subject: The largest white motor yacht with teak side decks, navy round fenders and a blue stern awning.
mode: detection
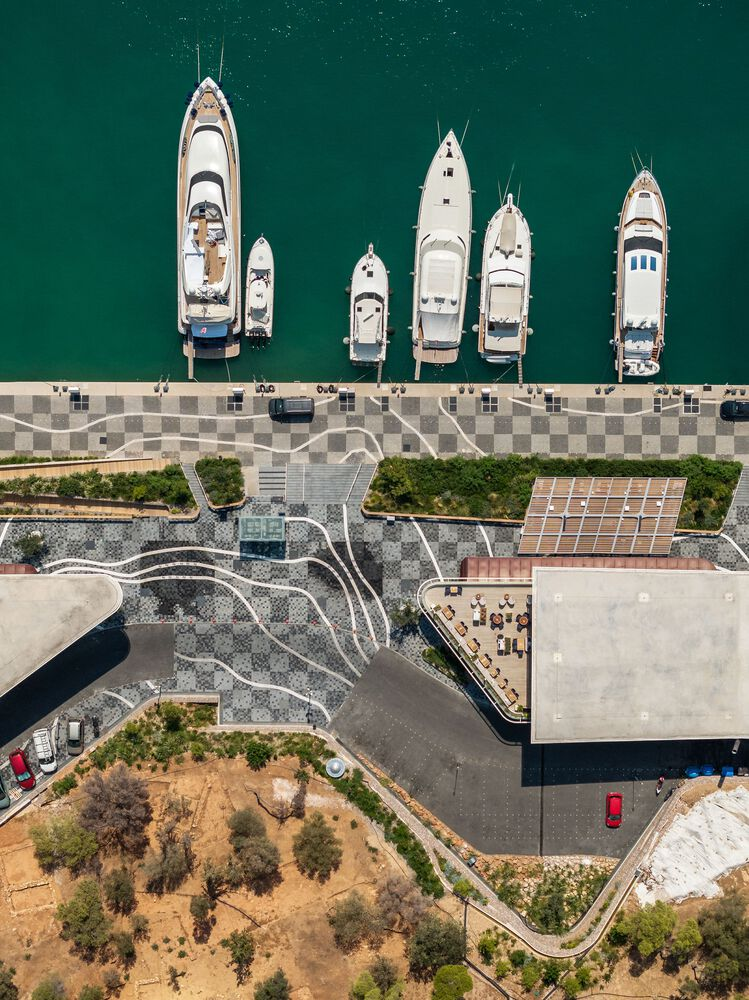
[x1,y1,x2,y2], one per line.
[178,38,241,383]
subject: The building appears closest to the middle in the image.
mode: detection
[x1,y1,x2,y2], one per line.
[240,516,286,542]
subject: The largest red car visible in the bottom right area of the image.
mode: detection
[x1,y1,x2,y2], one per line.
[603,792,625,829]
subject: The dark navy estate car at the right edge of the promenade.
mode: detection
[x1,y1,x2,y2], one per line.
[722,399,749,421]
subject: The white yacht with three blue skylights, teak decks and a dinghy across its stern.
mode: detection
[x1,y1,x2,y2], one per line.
[606,152,671,383]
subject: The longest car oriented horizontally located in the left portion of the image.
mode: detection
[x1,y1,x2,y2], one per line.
[268,397,313,419]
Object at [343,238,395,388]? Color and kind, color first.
white boat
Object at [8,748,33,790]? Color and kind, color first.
red car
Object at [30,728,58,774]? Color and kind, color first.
white vehicle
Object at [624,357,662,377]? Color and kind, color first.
white boat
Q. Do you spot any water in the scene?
Yes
